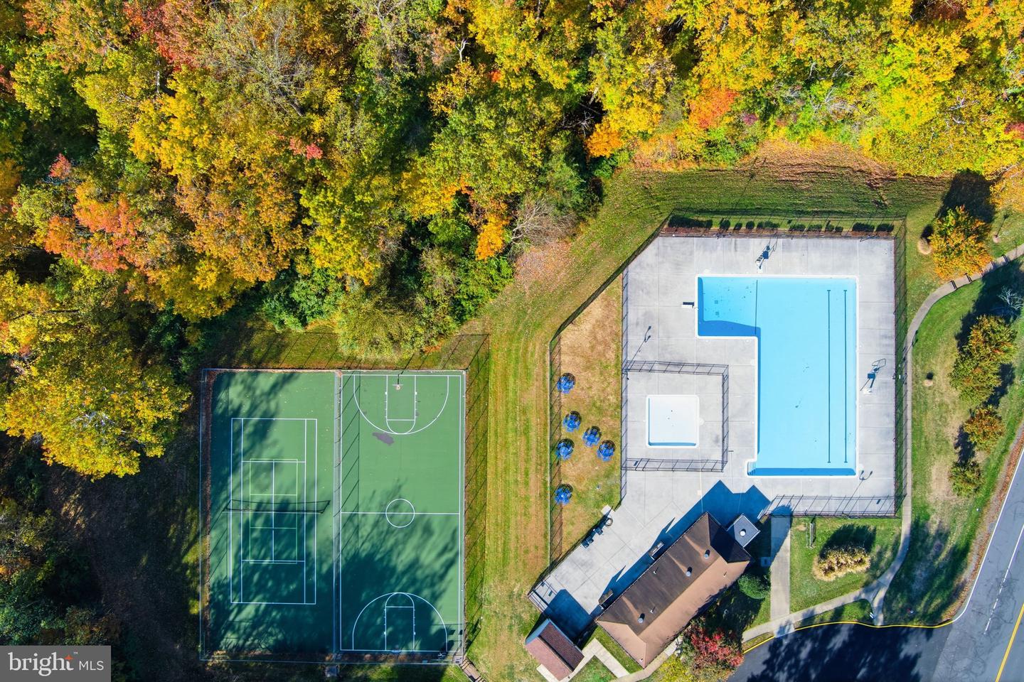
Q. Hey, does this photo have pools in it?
Yes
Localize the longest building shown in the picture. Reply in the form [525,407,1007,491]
[595,511,753,668]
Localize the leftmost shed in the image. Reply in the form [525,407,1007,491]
[526,620,585,681]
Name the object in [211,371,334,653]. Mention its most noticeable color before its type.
green tennis court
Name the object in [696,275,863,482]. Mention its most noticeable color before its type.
blue swimming pool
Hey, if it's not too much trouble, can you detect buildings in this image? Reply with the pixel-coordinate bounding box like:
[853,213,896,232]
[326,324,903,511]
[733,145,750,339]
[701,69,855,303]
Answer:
[595,511,753,668]
[526,620,585,681]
